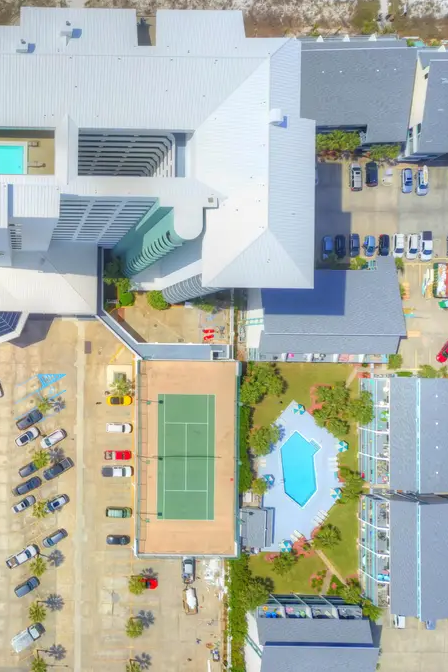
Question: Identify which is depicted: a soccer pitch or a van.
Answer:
van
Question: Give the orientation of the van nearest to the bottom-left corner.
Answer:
diagonally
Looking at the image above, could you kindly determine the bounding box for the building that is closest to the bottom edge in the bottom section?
[242,583,379,672]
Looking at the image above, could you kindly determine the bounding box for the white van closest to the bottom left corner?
[11,624,44,655]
